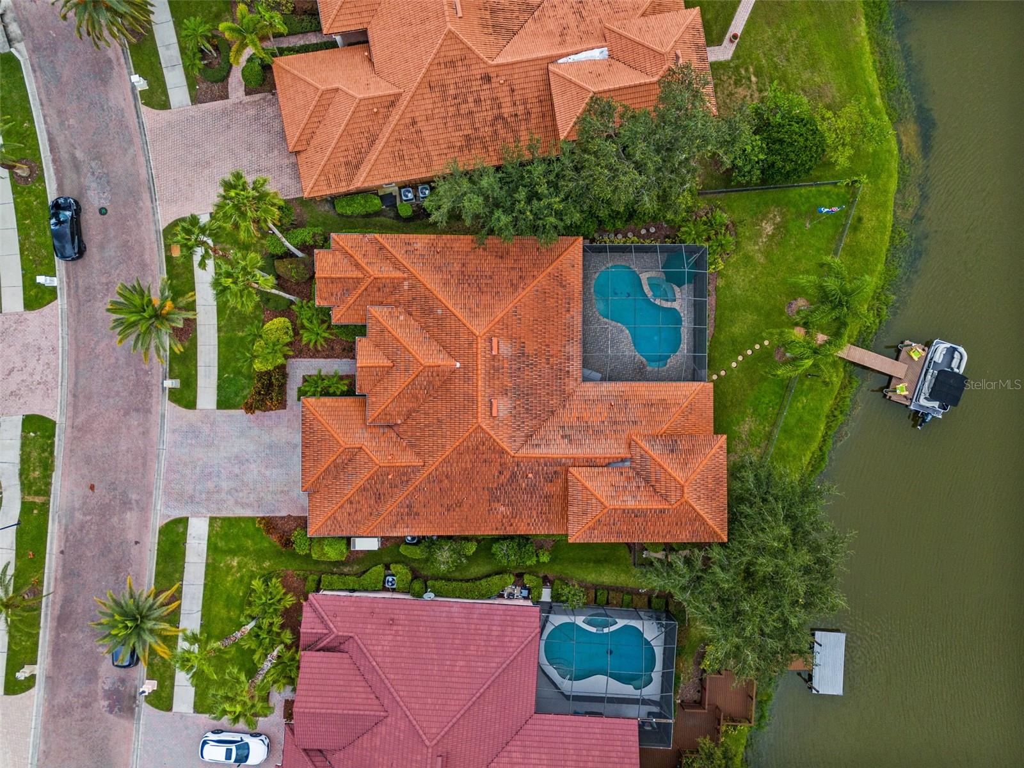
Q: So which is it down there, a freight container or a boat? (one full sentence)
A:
It is a boat that can be seen here.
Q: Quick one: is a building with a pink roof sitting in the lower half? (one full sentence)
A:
Yes, I can see a building with a pink roof in the lower half.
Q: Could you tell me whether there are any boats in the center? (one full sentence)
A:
No, looking in the center, there is no boat.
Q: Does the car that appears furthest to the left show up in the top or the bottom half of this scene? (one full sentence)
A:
Seen from above, the car that appears furthest to the left lies in the top half of the view.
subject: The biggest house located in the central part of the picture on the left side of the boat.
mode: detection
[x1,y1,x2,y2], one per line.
[301,234,728,543]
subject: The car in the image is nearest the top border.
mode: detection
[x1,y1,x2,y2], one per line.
[43,194,84,259]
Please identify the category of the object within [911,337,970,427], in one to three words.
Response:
boat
